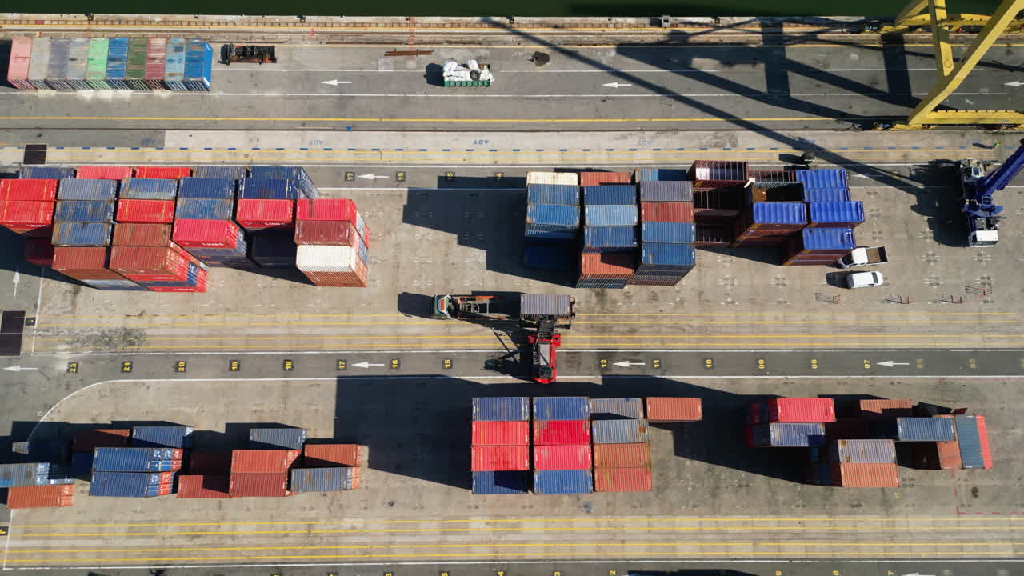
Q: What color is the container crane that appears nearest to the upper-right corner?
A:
yellow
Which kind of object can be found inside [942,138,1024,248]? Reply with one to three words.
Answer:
crane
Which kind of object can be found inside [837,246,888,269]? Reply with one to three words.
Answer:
truck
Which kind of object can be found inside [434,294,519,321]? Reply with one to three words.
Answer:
truck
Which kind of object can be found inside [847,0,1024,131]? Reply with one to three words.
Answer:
container crane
